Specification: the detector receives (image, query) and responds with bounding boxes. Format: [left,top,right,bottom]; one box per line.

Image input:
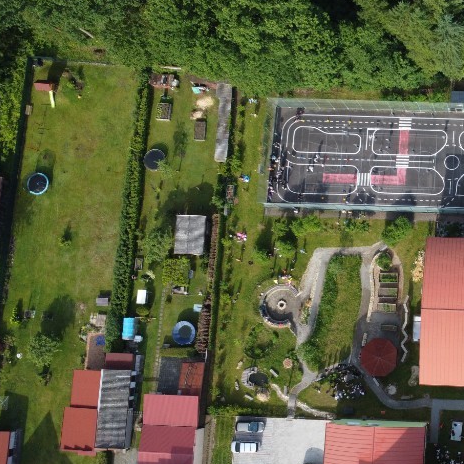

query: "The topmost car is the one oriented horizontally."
[234,419,268,435]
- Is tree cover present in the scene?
Yes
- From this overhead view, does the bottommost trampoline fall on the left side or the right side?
left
